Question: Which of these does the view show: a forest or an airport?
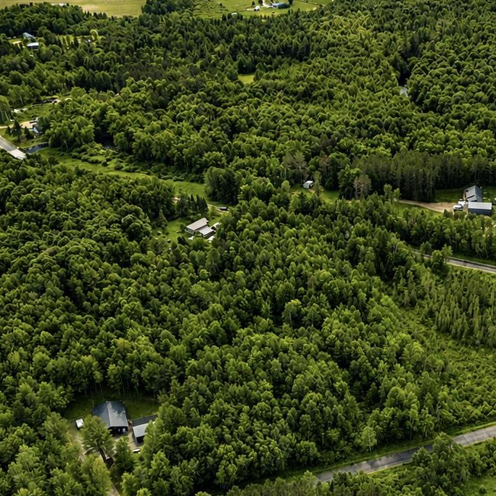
forest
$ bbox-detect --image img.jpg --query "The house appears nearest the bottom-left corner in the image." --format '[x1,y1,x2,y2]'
[90,400,132,447]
